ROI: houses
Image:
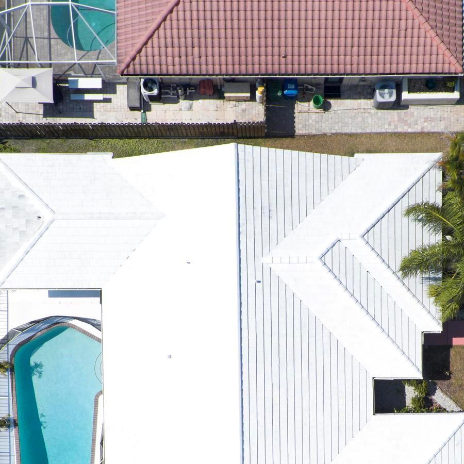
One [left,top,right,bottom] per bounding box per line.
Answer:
[114,0,464,86]
[0,141,464,464]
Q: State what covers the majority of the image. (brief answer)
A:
buildings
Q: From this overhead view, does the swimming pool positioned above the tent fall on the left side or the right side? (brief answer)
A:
left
